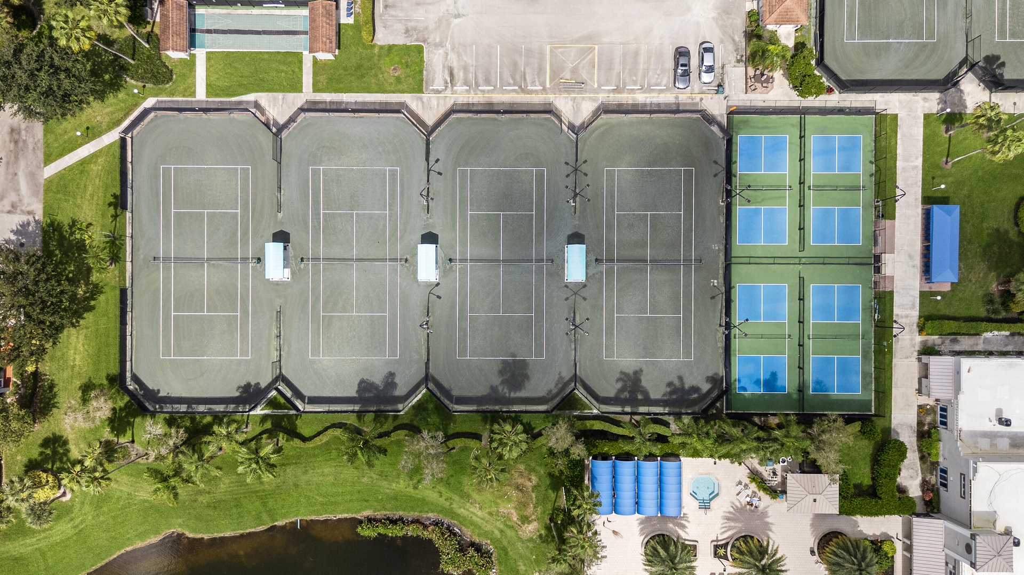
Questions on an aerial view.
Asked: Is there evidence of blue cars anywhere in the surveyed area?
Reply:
No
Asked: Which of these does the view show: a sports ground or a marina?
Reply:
sports ground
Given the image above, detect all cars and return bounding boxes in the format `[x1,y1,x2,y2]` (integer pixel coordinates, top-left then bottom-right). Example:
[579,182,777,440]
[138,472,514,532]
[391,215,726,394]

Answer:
[673,47,692,88]
[698,42,717,83]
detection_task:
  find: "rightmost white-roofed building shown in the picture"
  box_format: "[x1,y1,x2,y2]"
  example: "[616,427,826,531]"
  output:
[901,356,1024,575]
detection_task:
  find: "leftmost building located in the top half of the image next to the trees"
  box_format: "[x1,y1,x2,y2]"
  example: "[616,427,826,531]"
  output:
[159,0,194,57]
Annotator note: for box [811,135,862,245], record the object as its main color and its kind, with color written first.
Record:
blue sports court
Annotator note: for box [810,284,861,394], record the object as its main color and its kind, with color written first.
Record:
blue sports court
